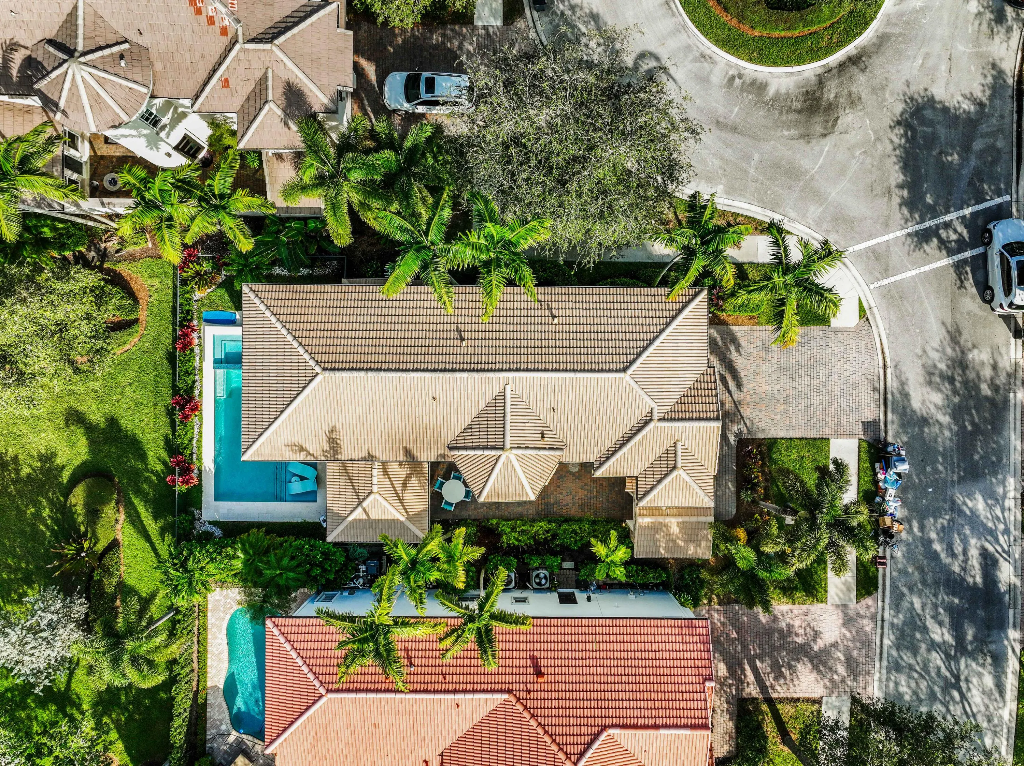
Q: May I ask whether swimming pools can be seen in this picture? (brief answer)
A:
Yes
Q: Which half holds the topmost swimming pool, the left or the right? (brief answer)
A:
left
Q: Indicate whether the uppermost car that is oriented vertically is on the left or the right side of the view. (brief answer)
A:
right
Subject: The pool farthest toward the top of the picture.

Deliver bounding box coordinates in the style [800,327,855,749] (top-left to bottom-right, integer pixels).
[213,335,317,502]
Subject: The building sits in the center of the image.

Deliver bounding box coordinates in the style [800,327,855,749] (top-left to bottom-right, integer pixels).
[239,277,722,562]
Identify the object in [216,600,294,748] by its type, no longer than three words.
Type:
swimming pool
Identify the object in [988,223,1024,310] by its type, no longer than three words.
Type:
car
